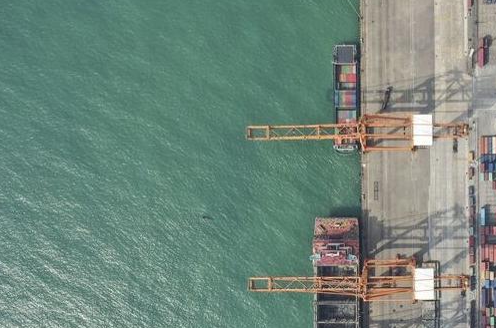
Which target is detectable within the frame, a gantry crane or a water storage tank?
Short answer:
gantry crane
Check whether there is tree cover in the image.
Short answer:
No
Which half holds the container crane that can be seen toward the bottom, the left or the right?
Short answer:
right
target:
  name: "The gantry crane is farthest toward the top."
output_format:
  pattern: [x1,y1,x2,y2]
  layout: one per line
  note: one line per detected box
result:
[247,112,468,156]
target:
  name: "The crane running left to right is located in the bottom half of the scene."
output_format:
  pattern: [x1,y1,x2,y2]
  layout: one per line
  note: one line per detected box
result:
[248,252,469,303]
